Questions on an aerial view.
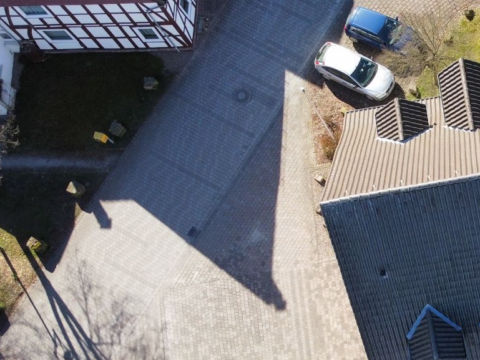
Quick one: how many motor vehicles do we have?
2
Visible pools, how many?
none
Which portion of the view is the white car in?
top right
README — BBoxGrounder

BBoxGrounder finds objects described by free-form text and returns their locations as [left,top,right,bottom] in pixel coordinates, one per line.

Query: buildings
[320,60,480,360]
[0,0,197,48]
